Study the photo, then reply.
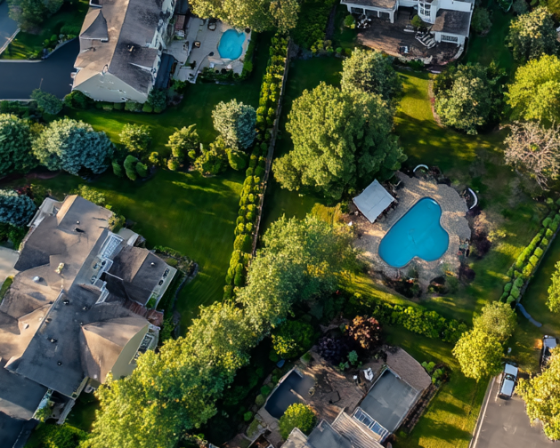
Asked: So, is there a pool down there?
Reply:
Yes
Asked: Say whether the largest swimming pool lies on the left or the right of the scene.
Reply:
right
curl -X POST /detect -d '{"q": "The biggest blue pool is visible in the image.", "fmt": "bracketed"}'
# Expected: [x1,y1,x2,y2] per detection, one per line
[375,194,452,271]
